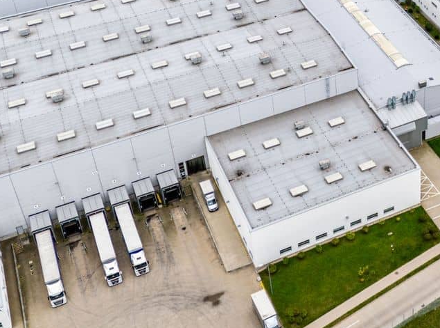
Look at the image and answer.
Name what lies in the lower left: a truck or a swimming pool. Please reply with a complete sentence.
Looking in the lower left, you will find a truck.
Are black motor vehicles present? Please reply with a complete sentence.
No, there's no black motor vehicle here.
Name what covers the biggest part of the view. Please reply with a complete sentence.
The largest share of the image is taken up by buildings.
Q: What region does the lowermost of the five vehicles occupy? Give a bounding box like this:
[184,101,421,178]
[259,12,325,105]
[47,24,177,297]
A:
[250,292,280,328]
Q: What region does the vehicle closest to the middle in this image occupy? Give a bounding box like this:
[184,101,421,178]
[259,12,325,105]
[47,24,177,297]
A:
[199,176,218,211]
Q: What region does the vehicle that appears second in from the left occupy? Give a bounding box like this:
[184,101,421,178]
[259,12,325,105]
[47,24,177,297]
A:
[89,211,124,288]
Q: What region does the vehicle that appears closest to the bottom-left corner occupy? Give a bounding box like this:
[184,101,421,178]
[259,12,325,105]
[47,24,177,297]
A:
[36,228,67,310]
